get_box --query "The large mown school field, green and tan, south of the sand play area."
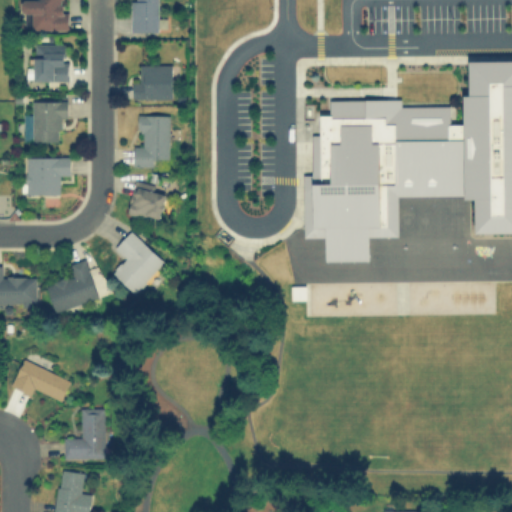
[255,282,512,512]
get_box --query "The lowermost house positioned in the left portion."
[55,470,92,512]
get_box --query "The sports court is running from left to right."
[286,190,512,283]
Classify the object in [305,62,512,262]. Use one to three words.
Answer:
building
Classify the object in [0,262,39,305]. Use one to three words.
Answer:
house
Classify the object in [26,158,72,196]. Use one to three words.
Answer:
house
